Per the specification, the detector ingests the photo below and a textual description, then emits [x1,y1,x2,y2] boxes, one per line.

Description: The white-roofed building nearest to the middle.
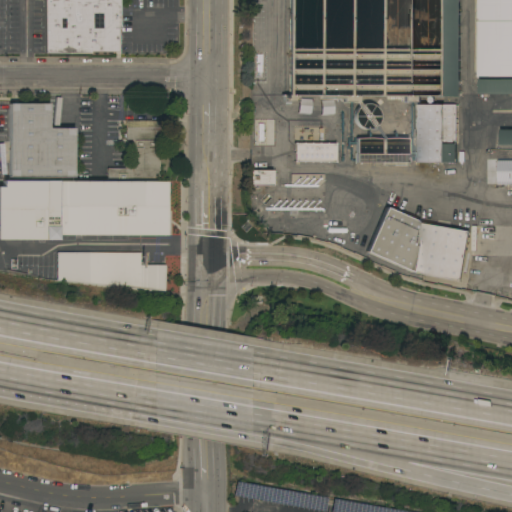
[253,170,276,186]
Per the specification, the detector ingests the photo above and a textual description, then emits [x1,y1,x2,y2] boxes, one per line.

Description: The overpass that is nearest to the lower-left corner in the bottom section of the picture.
[157,320,253,448]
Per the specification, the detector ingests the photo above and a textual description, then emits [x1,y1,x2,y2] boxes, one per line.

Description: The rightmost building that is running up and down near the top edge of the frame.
[476,0,512,78]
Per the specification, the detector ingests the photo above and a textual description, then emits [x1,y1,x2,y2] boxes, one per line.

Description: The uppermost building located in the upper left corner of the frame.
[47,0,123,54]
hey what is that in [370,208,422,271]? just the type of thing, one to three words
building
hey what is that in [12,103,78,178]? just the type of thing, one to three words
building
